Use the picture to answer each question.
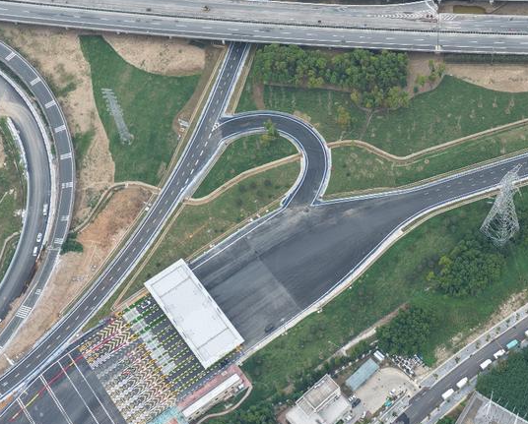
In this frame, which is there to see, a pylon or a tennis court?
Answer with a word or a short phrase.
pylon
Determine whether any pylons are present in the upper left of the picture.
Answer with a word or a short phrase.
Yes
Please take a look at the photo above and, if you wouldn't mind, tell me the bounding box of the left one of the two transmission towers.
[106,86,134,142]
